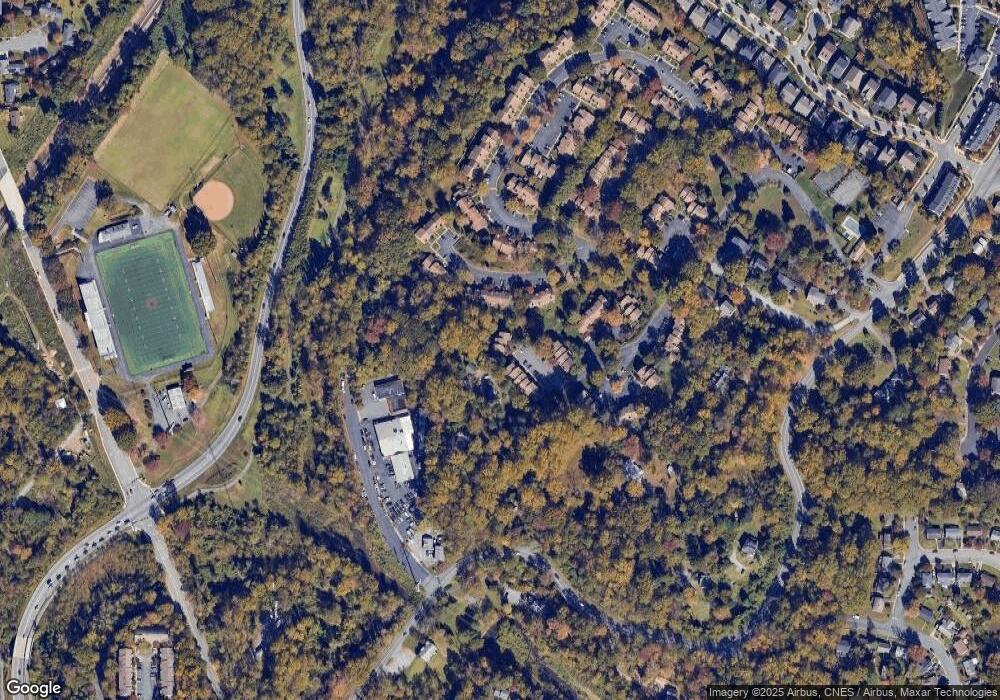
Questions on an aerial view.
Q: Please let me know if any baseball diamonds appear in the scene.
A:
Yes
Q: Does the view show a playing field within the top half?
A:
Yes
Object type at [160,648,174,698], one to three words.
building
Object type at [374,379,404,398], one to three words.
building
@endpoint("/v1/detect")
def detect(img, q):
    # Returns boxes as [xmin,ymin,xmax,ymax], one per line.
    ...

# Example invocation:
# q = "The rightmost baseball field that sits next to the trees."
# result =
[190,146,265,245]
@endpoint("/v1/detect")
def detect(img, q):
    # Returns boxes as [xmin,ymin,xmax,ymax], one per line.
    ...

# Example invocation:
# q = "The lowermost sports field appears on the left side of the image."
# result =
[97,231,207,375]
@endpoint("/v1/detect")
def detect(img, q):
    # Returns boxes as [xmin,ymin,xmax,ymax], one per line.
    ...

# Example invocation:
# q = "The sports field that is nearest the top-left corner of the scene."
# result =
[94,53,234,211]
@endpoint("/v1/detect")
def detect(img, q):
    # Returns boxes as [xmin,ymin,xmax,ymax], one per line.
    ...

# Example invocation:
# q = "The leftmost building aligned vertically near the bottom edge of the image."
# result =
[118,648,132,698]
